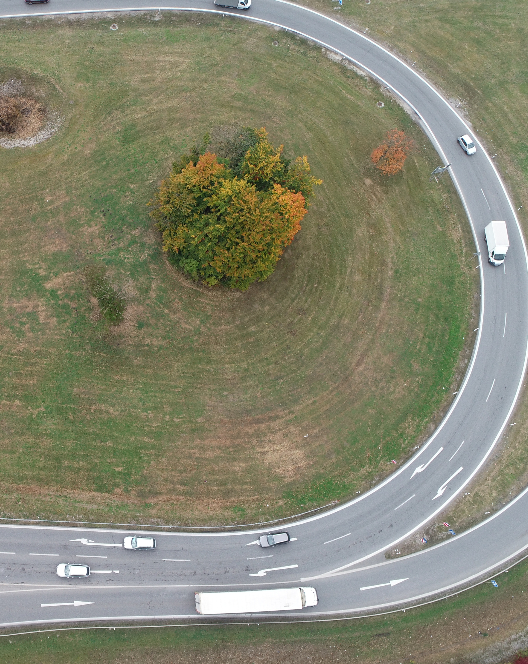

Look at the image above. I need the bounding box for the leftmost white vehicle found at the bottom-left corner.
[57,562,90,579]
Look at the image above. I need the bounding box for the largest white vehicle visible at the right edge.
[484,221,509,264]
